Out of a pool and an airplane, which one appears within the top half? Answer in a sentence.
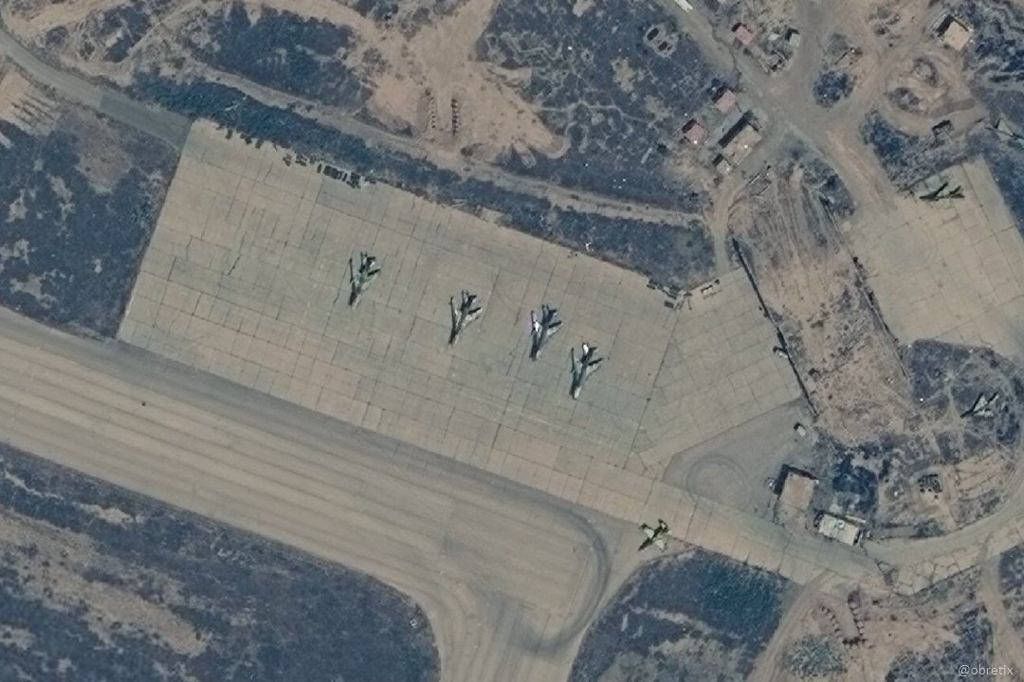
Looking within the top half, you will find an airplane.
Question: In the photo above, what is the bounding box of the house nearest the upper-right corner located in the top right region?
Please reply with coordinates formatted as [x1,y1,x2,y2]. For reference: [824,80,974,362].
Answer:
[945,23,970,47]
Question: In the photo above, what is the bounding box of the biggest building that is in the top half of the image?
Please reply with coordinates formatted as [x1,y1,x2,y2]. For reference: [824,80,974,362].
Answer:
[724,125,762,162]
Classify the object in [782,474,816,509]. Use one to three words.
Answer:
building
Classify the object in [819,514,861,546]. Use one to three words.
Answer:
building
